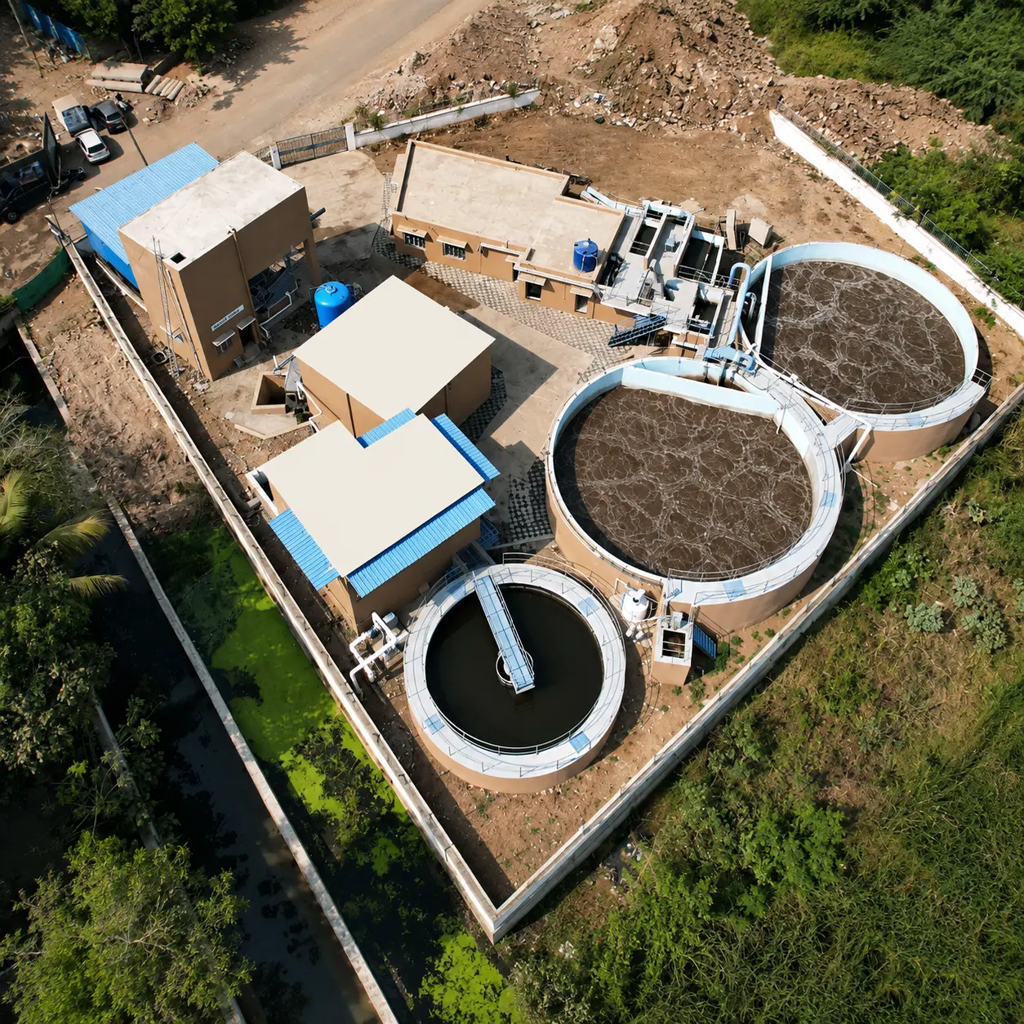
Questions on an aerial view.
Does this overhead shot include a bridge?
Yes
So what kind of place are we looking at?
industrial area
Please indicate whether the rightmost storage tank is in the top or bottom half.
top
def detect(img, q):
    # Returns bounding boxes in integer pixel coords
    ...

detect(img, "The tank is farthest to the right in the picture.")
[727,232,992,467]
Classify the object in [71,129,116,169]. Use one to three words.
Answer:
car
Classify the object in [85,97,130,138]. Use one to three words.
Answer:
car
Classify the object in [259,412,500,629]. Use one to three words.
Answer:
building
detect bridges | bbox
[479,571,535,691]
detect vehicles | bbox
[112,91,126,113]
[0,158,69,219]
[71,129,116,169]
[47,87,94,139]
[85,97,130,138]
